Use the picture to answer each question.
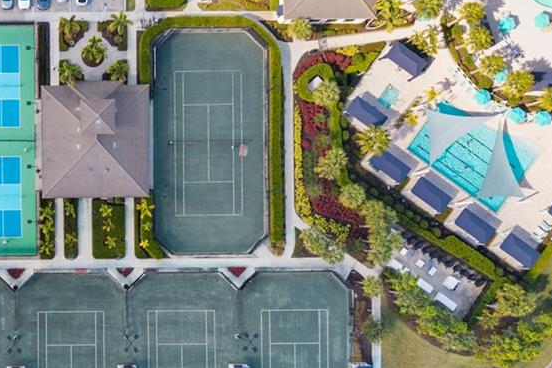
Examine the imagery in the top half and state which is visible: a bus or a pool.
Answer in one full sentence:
The one visible in the top half is a pool.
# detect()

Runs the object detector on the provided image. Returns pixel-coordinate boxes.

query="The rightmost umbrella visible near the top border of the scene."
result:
[530,12,549,29]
